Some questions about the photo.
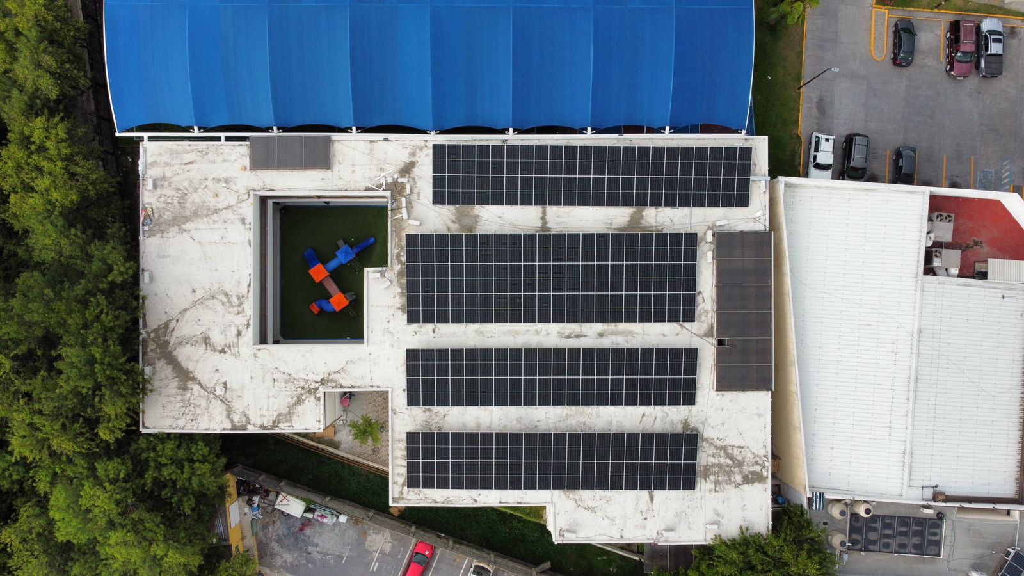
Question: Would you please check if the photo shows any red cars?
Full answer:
Yes, a red car can be made out from above.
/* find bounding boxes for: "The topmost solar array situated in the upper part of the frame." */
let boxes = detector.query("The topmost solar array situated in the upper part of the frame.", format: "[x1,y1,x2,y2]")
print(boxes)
[432,145,752,207]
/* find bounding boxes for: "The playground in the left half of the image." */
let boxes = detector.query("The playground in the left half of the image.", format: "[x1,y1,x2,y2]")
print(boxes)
[303,236,375,321]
